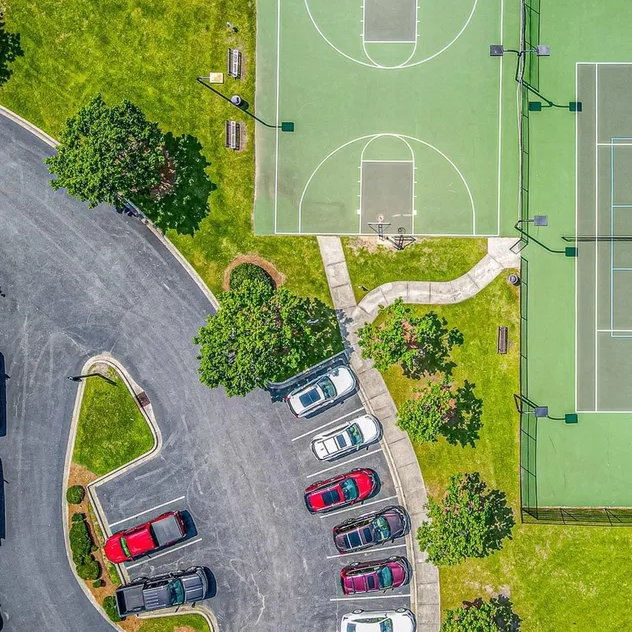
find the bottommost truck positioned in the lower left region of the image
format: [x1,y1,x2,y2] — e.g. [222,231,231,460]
[113,568,209,617]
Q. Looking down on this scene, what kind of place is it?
sports ground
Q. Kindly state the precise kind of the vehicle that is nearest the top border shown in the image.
automobile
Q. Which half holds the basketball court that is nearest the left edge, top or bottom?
top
